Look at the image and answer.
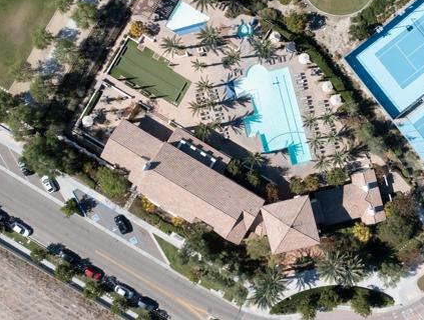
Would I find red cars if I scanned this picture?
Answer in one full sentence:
Yes, a red car appears in the view.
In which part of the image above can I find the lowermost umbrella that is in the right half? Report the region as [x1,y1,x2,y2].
[328,93,342,106]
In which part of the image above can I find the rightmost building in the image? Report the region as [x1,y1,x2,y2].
[343,168,385,223]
